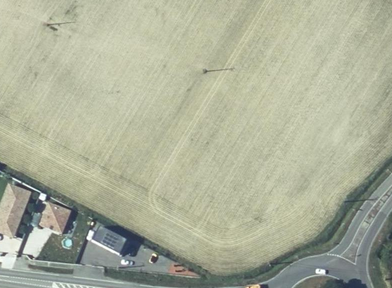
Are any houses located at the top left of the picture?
No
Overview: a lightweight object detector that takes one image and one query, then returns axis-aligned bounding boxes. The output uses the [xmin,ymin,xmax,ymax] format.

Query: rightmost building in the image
[90,226,126,256]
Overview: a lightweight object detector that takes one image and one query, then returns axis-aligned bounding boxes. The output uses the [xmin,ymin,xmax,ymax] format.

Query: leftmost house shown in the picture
[0,182,30,238]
